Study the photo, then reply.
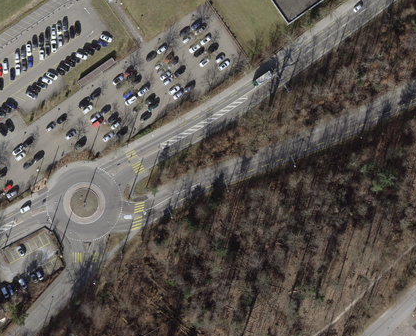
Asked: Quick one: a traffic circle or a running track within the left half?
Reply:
traffic circle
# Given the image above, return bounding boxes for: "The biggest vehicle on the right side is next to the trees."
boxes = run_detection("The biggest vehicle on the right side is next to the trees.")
[251,70,274,88]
